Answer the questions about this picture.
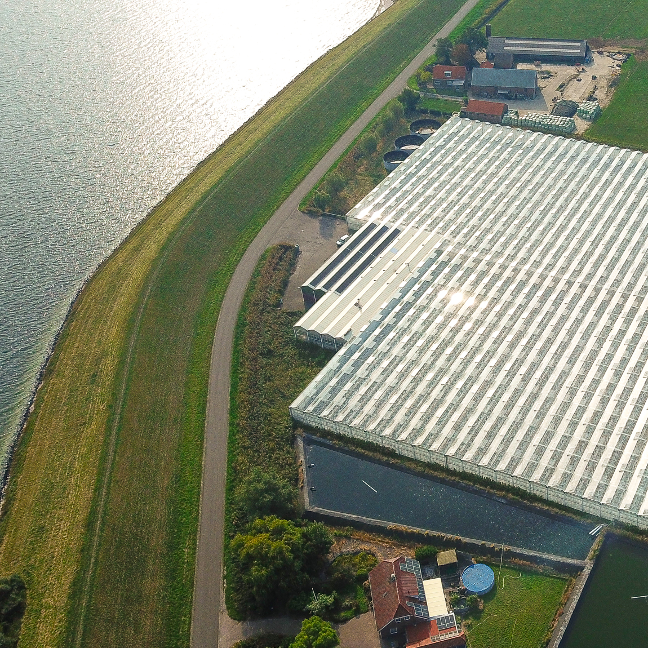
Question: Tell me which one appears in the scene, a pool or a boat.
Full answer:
I can see a pool in this picture.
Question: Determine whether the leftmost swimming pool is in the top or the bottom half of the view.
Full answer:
Seen from above, the leftmost swimming pool lies in the bottom half of the view.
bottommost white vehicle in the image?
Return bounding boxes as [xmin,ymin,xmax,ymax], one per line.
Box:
[335,233,349,246]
